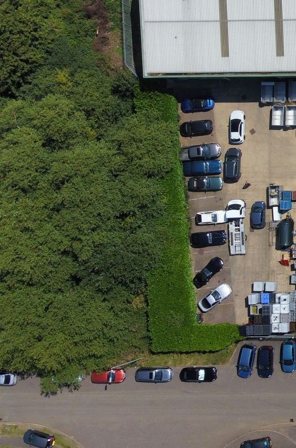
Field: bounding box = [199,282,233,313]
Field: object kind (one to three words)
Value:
car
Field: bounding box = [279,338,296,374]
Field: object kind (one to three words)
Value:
car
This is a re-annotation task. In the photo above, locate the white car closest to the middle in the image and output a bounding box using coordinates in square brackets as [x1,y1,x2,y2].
[194,210,229,226]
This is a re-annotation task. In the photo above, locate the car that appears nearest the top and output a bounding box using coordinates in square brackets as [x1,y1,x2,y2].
[181,96,215,113]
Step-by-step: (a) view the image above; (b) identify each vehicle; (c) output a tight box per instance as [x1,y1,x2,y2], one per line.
[256,345,275,378]
[192,231,227,248]
[134,366,175,384]
[228,111,246,145]
[181,120,214,136]
[240,433,274,448]
[194,210,229,226]
[181,96,215,113]
[187,176,224,192]
[235,342,258,379]
[23,427,57,448]
[249,200,266,230]
[0,371,21,388]
[182,143,223,160]
[224,199,246,254]
[224,147,243,183]
[195,255,226,289]
[49,372,82,391]
[279,338,296,374]
[92,367,128,385]
[184,160,223,176]
[179,366,219,383]
[199,282,233,313]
